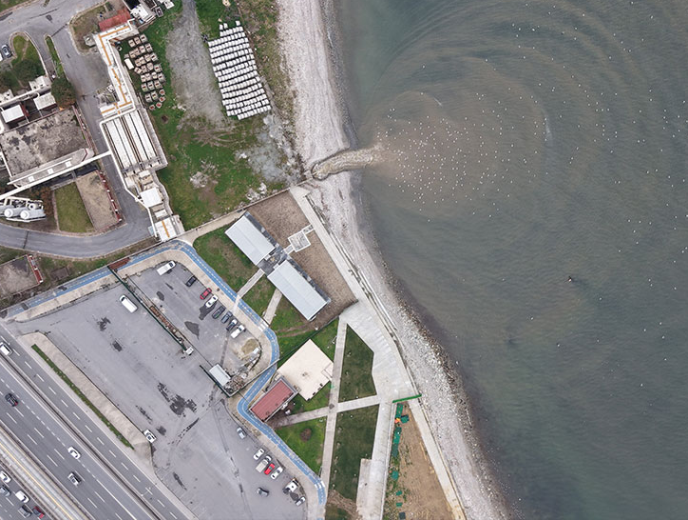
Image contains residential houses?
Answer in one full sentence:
Yes, there's a residential house down there.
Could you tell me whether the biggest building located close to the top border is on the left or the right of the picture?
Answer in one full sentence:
The biggest building located close to the top border sits on the left side.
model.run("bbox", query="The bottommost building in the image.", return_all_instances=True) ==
[248,376,298,421]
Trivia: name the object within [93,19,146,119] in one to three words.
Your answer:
building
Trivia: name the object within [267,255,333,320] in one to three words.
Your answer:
building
